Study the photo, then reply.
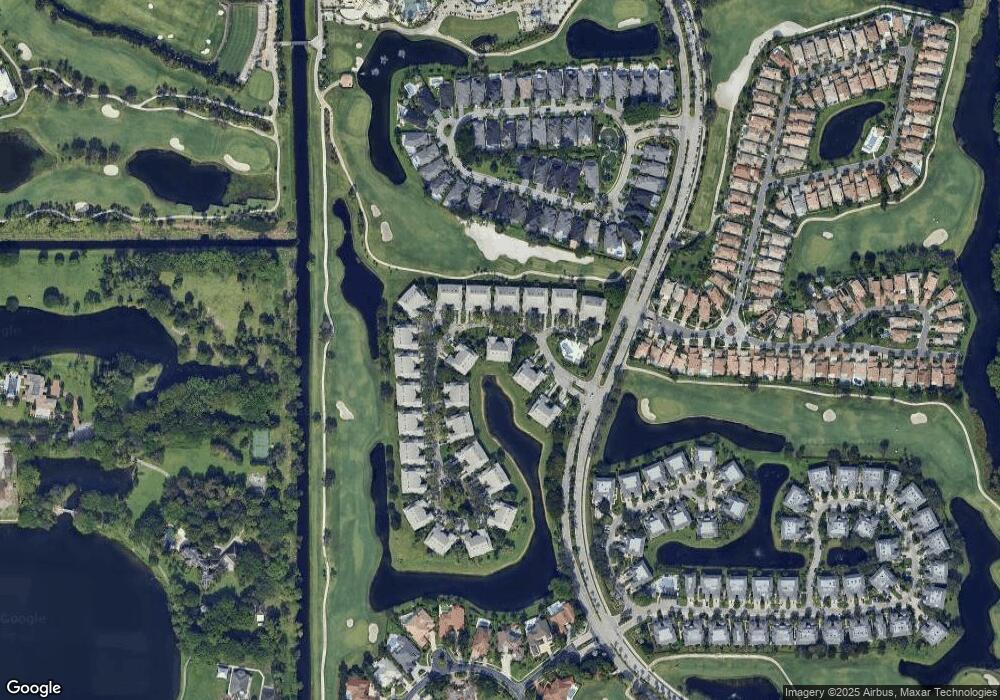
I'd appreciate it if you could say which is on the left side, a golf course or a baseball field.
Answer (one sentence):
The one visible on the left side is a golf course.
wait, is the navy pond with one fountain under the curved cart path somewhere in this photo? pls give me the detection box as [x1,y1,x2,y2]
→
[685,677,784,700]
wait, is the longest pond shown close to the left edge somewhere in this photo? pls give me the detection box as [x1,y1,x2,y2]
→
[29,457,137,509]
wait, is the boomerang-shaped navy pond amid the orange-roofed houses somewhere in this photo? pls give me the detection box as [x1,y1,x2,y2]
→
[819,102,886,160]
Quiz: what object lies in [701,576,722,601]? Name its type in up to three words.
house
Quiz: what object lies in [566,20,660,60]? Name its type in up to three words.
pond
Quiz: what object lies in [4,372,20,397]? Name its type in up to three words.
swimming pool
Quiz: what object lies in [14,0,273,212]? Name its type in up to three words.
golf course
